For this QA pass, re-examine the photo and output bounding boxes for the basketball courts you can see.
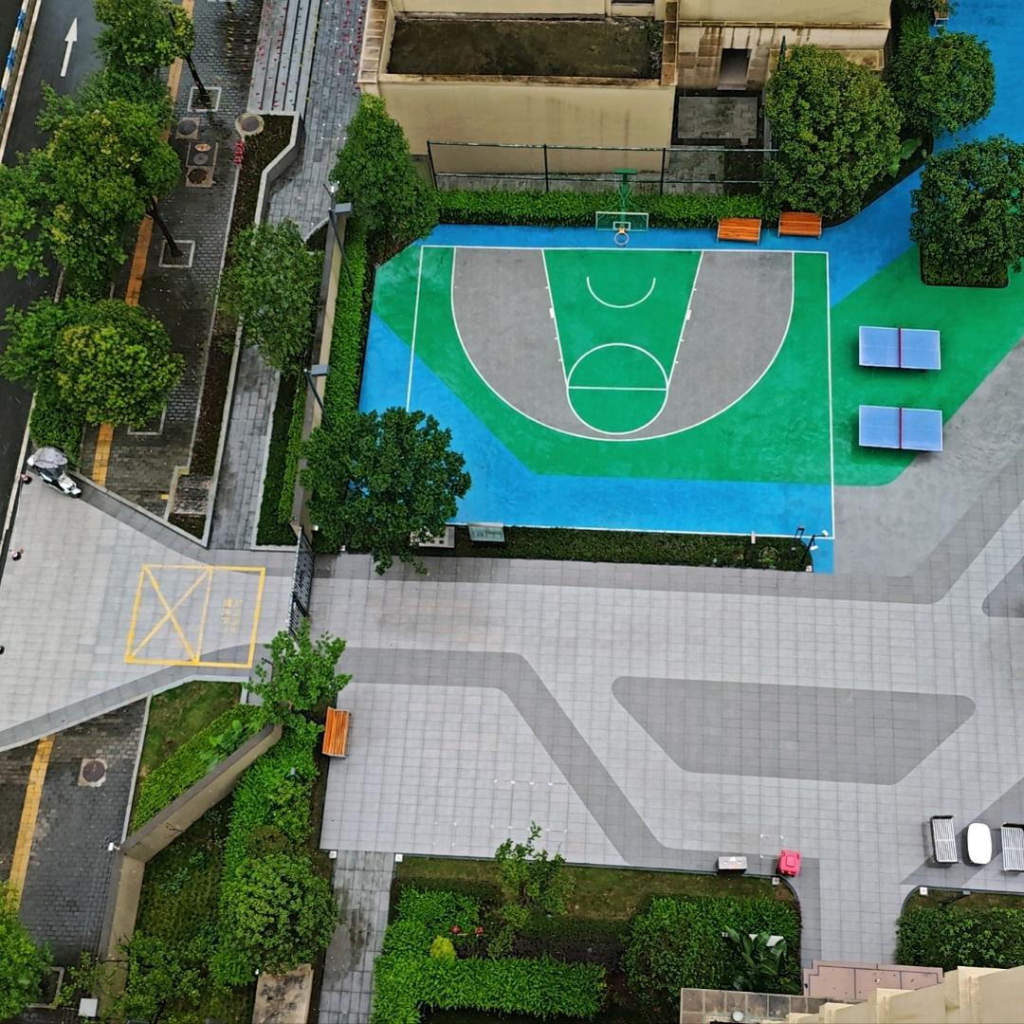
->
[355,225,839,571]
